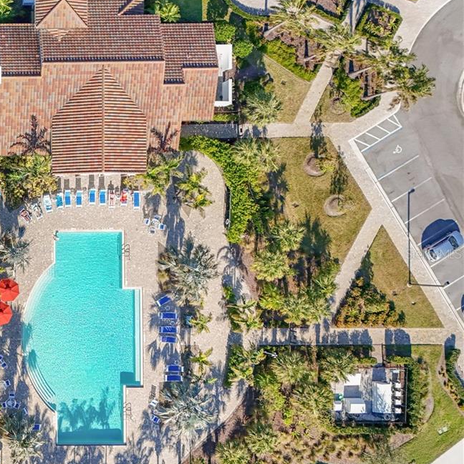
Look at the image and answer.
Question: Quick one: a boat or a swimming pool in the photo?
swimming pool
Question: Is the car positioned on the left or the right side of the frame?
right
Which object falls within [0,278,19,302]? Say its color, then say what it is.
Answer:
red umbrella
